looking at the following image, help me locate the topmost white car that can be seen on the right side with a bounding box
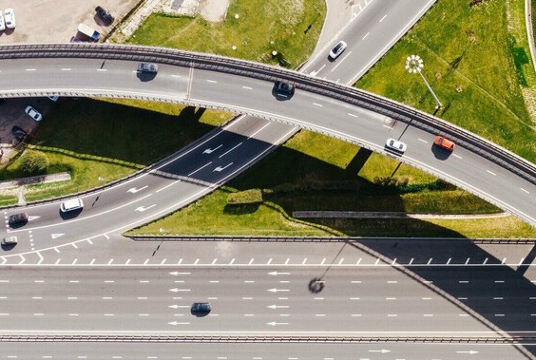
[327,40,347,61]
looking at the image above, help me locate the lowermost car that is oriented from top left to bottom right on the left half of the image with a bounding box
[9,126,30,143]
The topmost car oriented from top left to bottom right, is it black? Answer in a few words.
Yes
